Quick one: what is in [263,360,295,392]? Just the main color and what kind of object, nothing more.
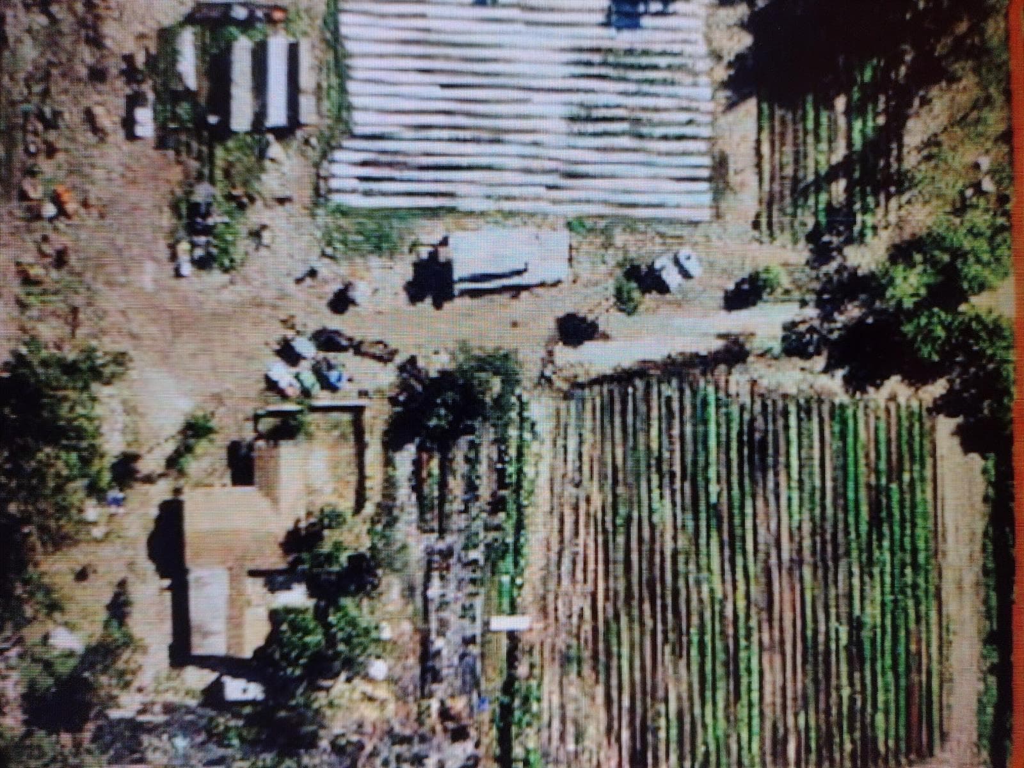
white car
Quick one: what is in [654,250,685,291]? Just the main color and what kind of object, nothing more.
white car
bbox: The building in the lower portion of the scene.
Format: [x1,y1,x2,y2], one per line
[182,442,306,658]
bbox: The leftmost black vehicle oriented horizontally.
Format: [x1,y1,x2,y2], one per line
[311,329,349,350]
